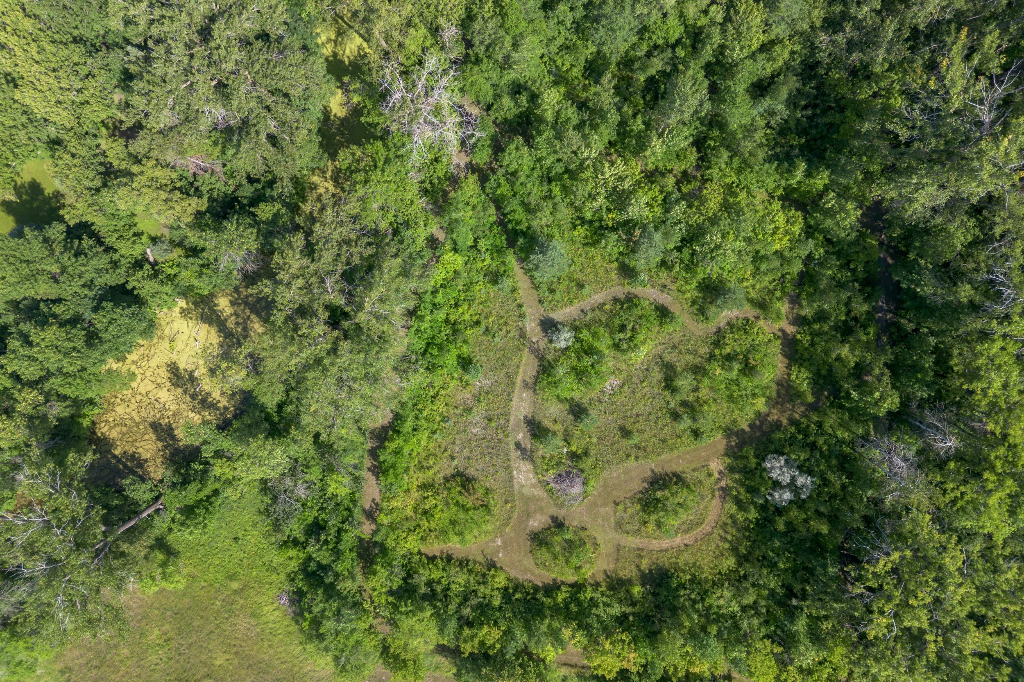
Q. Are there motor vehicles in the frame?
No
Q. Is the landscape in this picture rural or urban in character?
rural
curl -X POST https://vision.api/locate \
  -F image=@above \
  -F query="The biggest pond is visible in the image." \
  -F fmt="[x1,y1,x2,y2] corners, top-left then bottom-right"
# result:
[81,261,296,494]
